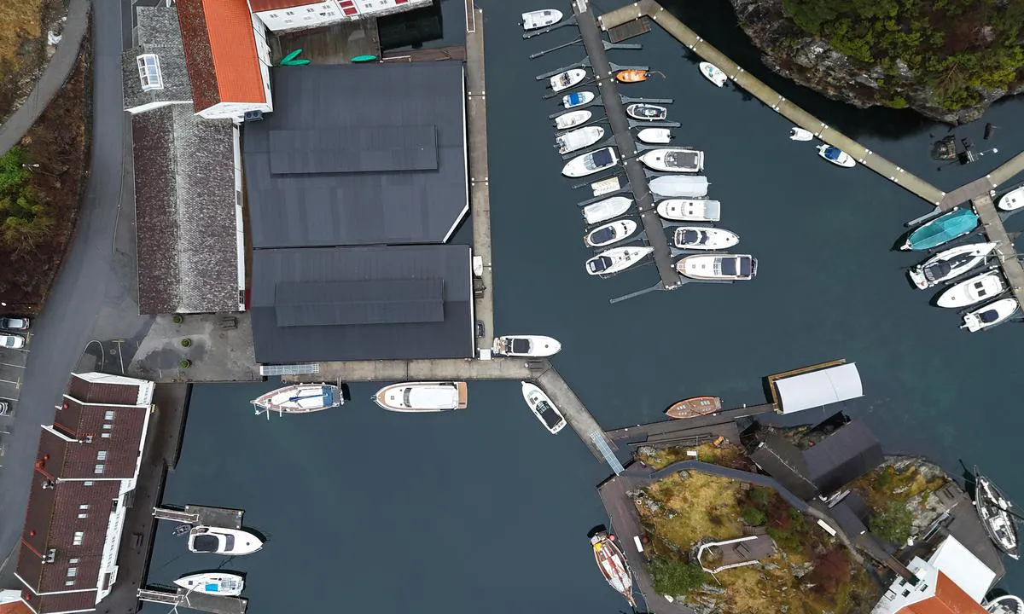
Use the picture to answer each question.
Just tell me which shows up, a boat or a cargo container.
boat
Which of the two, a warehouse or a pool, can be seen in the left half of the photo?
warehouse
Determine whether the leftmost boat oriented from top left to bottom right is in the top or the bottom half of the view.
bottom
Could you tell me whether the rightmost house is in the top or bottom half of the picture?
bottom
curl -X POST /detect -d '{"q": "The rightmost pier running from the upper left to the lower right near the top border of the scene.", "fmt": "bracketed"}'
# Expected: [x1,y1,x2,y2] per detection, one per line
[652,6,944,205]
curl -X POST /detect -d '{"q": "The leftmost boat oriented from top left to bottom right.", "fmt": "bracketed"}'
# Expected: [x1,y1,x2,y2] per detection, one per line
[520,380,565,433]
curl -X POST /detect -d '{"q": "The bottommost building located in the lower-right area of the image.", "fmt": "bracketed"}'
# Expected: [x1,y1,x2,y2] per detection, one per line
[870,531,996,614]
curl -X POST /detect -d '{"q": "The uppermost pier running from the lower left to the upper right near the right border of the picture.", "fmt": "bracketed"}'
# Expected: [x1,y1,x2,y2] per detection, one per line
[985,151,1024,185]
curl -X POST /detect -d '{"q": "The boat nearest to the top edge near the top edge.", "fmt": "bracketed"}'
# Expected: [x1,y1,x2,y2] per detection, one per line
[518,7,577,29]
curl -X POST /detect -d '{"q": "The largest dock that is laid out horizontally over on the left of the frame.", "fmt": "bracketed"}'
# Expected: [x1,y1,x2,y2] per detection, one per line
[284,358,534,382]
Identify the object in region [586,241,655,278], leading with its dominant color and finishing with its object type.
white boat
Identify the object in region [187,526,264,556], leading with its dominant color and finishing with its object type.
white boat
